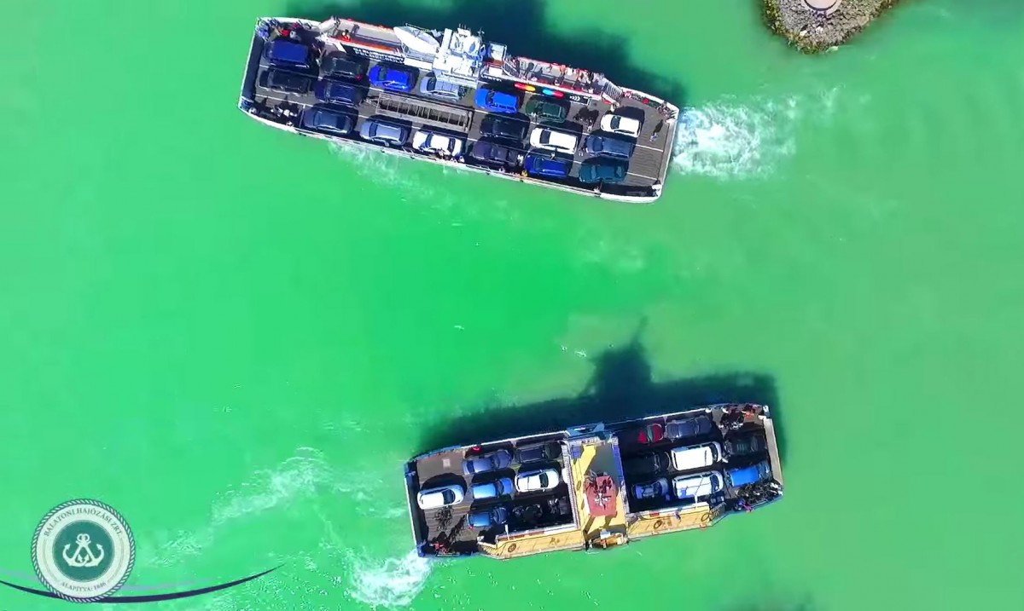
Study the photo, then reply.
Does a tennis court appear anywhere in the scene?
No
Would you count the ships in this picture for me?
two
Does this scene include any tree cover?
No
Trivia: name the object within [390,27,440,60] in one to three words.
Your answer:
boat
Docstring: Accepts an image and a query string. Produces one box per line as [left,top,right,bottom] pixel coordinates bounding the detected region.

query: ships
[408,402,784,566]
[242,15,680,202]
